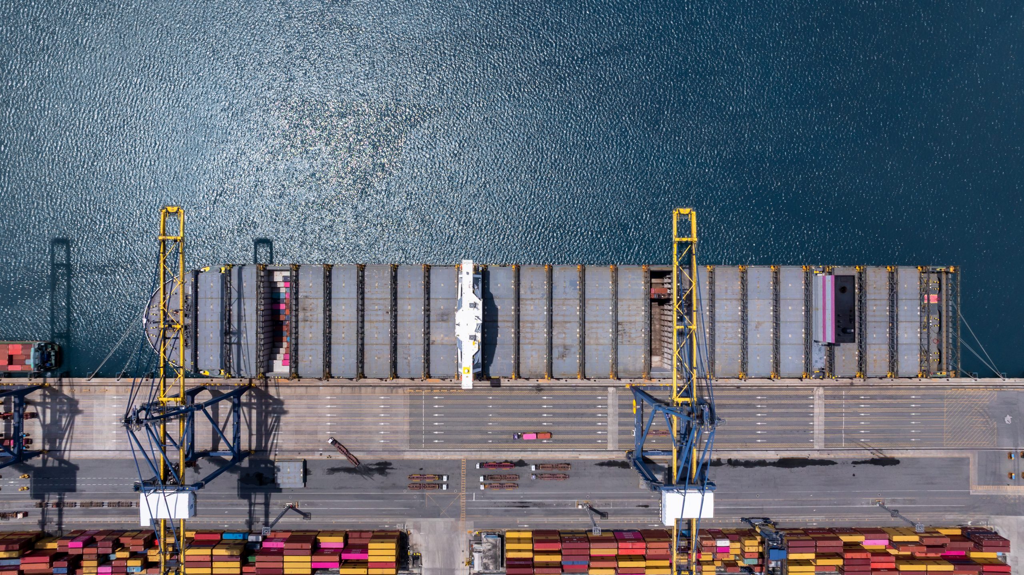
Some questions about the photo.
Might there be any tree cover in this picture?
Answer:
No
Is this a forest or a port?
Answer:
port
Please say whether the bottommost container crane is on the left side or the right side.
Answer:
right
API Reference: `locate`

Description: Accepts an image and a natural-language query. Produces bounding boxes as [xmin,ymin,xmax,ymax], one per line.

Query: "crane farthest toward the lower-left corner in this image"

[0,383,54,473]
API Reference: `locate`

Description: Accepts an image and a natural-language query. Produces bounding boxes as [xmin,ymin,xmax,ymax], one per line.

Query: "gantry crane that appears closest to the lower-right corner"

[741,519,789,575]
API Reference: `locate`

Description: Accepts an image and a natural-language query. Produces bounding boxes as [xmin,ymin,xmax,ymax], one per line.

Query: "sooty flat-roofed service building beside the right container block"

[482,533,501,571]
